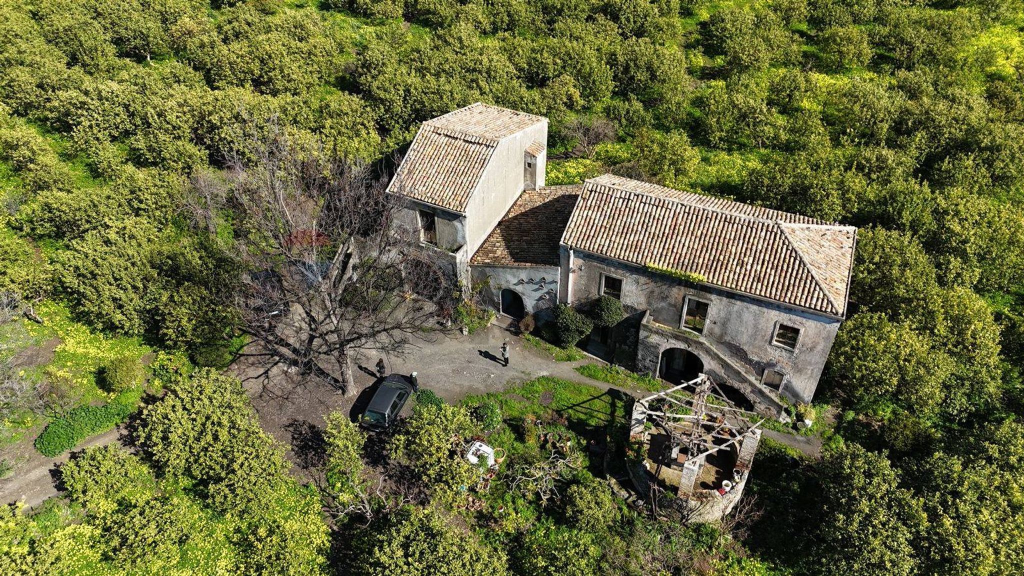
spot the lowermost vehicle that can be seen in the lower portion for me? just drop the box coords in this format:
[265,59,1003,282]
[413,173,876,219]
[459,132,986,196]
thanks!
[356,373,415,437]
